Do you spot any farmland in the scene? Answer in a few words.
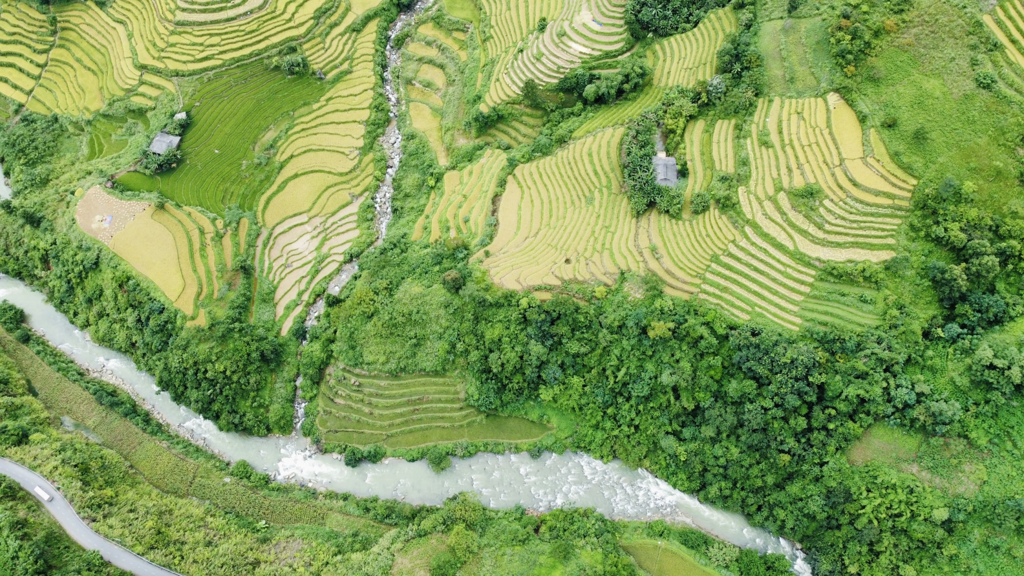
Yes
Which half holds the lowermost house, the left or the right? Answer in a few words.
right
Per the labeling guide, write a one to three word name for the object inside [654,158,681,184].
house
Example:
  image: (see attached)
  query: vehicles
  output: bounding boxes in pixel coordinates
[33,486,52,504]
